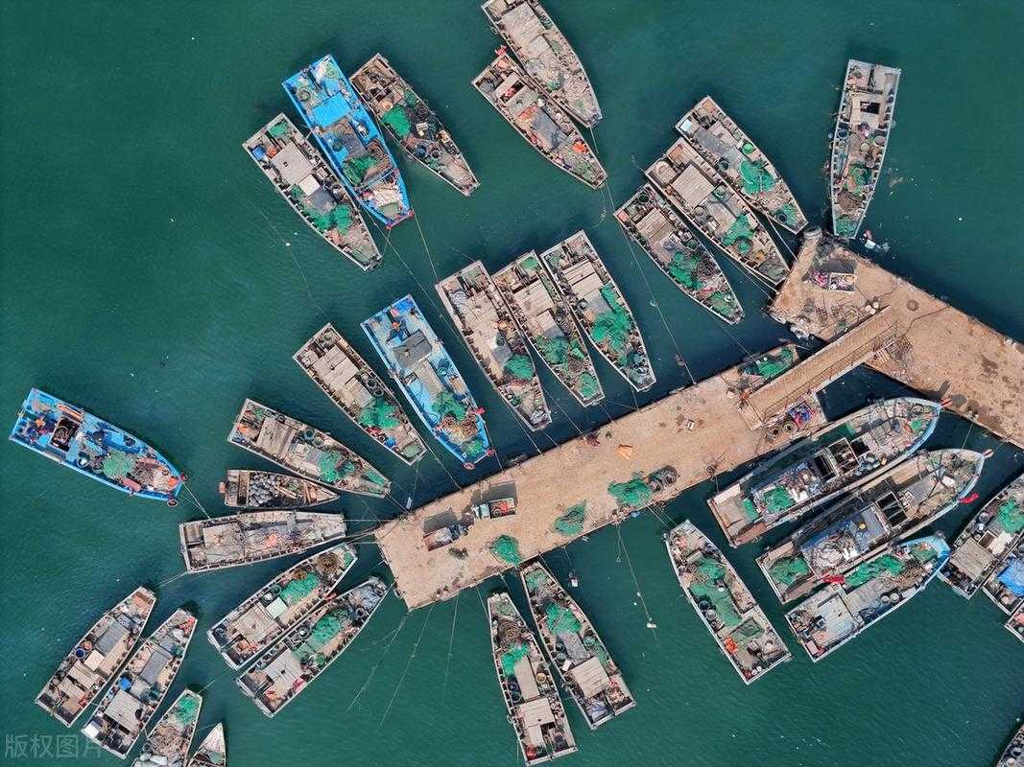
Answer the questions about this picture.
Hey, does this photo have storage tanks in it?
No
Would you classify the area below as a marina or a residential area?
marina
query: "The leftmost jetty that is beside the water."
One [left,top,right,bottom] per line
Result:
[374,372,765,612]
